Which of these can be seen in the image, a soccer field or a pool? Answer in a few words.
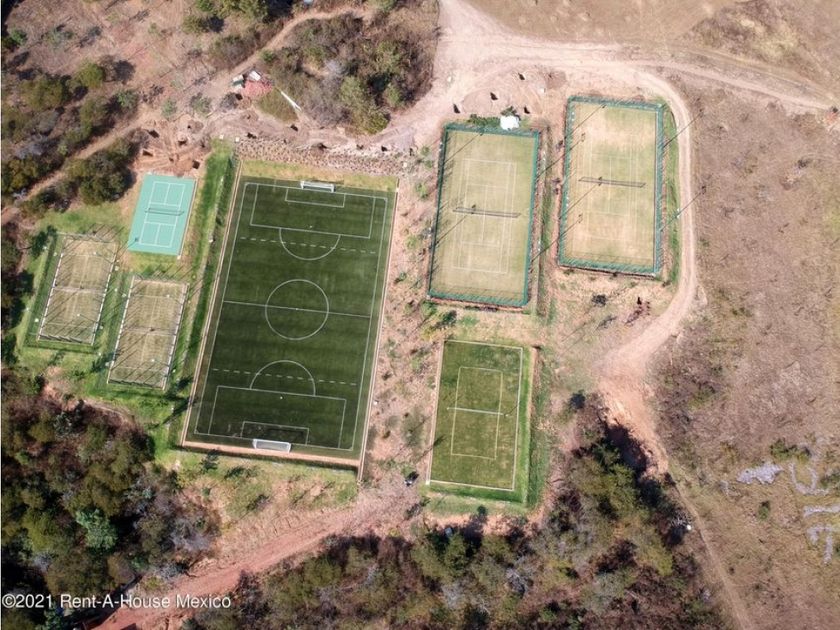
soccer field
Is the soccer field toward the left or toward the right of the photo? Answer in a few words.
left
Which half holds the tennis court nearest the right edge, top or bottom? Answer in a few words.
top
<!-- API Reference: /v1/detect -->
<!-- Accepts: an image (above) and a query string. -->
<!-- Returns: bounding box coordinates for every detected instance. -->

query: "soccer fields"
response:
[180,158,404,485]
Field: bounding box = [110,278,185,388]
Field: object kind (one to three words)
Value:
sports court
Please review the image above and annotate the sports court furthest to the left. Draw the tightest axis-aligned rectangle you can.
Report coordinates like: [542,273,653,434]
[38,239,116,345]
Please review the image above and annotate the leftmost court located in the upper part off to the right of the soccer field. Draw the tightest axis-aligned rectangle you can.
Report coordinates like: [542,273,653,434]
[428,134,537,307]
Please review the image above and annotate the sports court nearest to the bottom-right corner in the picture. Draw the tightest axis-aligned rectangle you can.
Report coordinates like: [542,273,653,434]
[427,340,535,503]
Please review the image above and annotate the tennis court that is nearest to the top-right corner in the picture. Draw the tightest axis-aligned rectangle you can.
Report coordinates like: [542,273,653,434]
[559,104,659,273]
